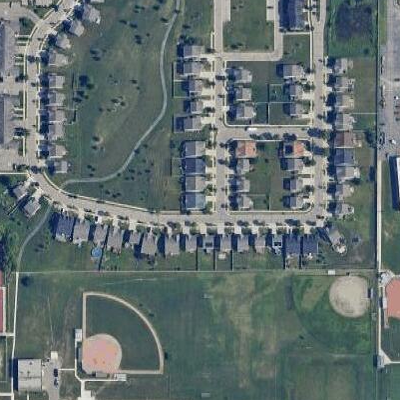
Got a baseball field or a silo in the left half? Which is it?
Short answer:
baseball field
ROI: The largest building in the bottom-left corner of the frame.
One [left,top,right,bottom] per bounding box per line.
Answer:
[18,359,42,391]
